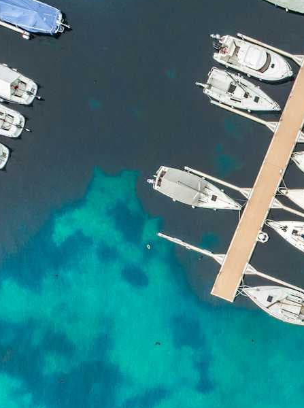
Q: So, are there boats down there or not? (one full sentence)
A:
Yes, there is a boat in the image.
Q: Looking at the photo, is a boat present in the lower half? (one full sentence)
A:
Yes, a boat is visible in the lower half.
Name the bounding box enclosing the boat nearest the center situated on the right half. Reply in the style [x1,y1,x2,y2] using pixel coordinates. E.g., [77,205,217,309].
[152,164,240,214]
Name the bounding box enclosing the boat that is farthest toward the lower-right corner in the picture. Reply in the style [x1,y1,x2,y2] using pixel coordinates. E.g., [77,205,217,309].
[237,285,304,325]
